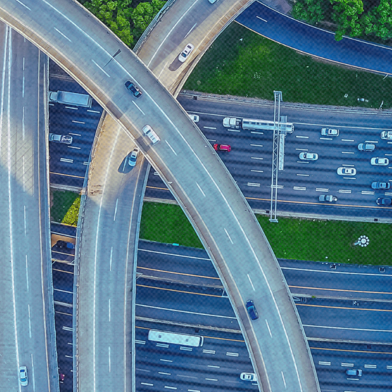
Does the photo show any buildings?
No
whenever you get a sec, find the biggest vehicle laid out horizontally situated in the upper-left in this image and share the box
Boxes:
[51,90,94,108]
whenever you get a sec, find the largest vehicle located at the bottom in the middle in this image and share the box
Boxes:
[148,328,205,348]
